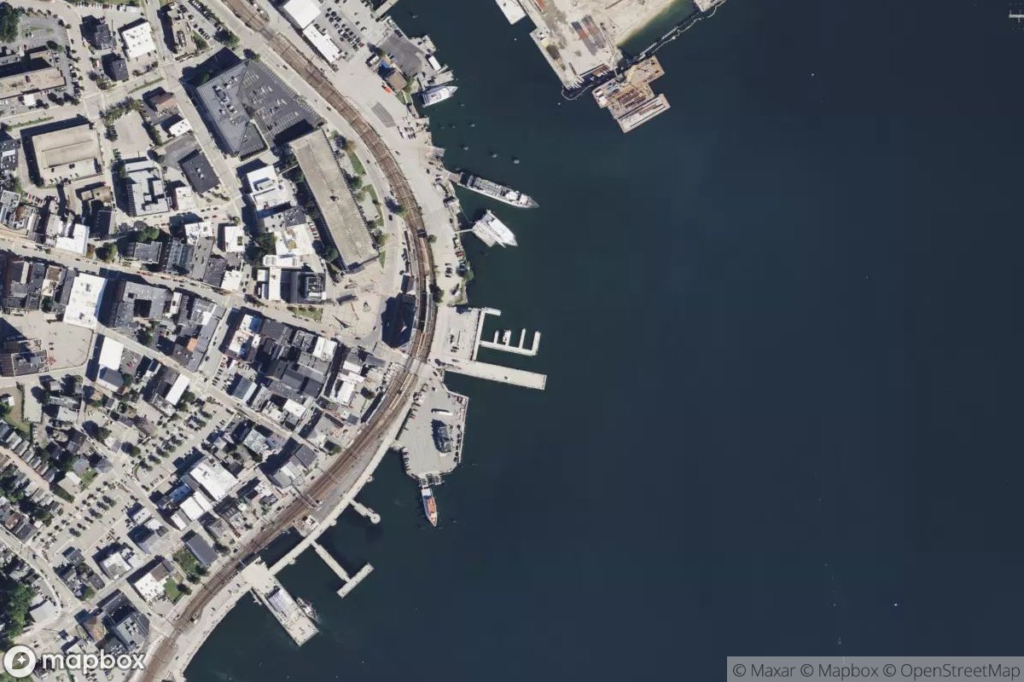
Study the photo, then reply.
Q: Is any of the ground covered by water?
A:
Yes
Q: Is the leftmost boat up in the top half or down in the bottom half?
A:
bottom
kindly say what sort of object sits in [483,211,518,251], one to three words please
ship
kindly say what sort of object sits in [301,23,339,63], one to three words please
building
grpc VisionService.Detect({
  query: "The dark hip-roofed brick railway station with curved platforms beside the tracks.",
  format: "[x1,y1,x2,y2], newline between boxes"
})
[385,228,436,415]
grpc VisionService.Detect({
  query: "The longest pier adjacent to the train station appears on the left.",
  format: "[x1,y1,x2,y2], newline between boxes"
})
[270,433,400,578]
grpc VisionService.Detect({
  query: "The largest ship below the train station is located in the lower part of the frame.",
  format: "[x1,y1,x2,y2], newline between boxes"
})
[421,487,439,527]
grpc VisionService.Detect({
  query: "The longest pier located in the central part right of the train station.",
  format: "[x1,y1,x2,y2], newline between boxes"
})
[444,359,546,390]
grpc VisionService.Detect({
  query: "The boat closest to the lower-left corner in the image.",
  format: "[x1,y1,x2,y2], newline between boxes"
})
[296,597,316,619]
